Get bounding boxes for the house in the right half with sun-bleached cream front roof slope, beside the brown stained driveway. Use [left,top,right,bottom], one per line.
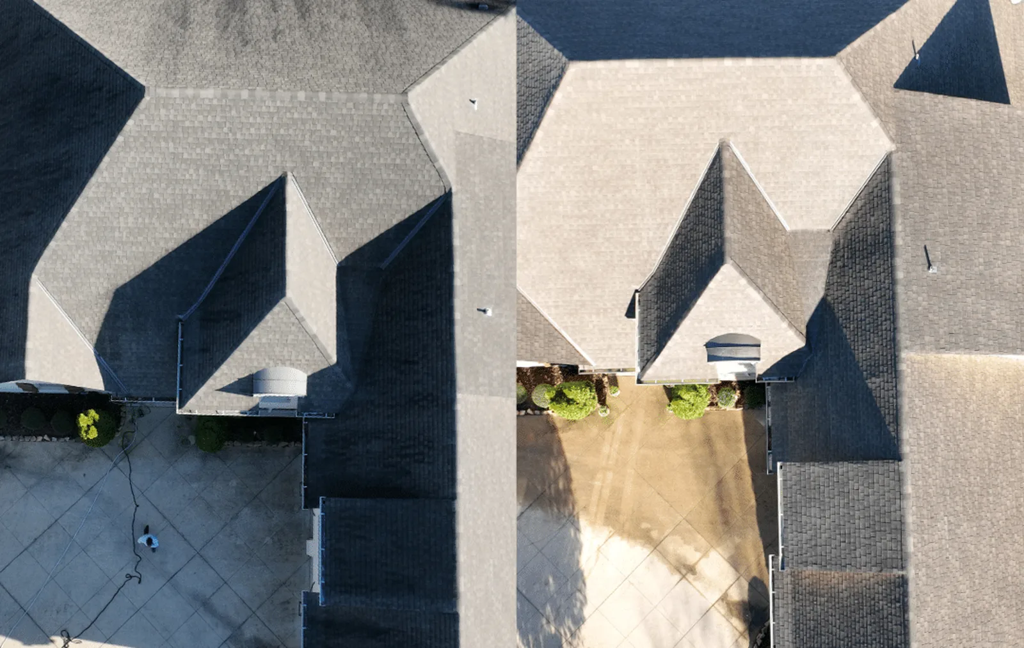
[516,0,1024,648]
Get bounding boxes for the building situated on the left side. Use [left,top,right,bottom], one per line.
[0,0,517,648]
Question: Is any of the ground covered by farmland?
No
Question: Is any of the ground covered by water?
No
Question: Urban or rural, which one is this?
urban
